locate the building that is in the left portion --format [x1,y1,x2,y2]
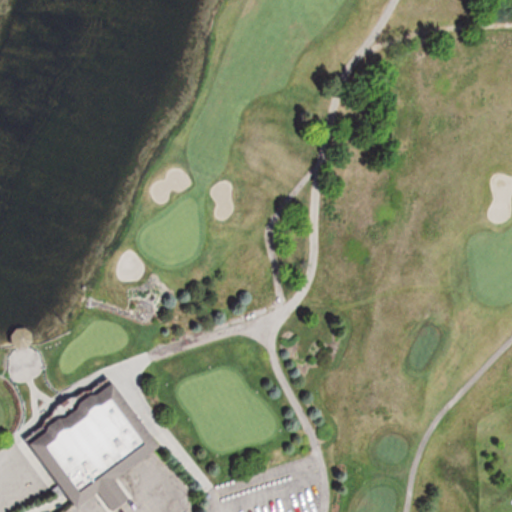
[25,379,162,512]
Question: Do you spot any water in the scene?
Yes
